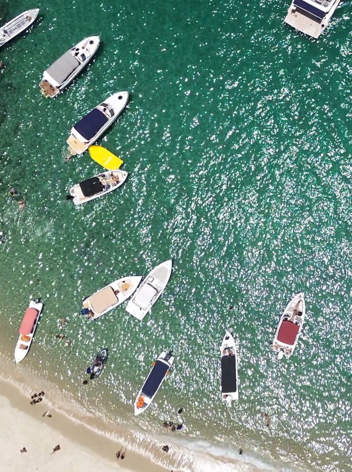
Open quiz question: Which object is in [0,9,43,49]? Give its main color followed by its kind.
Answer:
white boat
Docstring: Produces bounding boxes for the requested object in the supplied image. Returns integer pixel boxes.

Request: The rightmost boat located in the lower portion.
[270,292,304,358]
